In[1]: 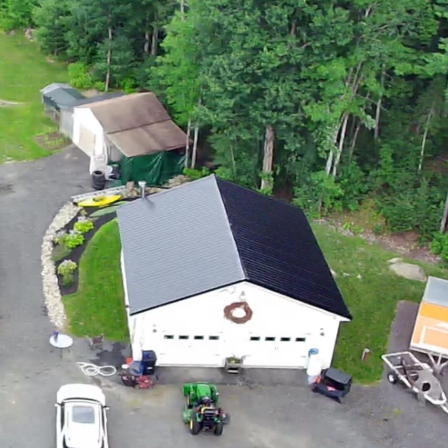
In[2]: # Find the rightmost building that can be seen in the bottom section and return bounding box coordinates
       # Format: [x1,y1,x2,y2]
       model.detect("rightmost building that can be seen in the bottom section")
[114,171,355,368]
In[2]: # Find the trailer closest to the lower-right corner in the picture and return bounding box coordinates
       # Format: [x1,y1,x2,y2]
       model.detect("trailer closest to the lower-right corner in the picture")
[376,357,448,417]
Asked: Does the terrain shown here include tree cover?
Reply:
Yes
